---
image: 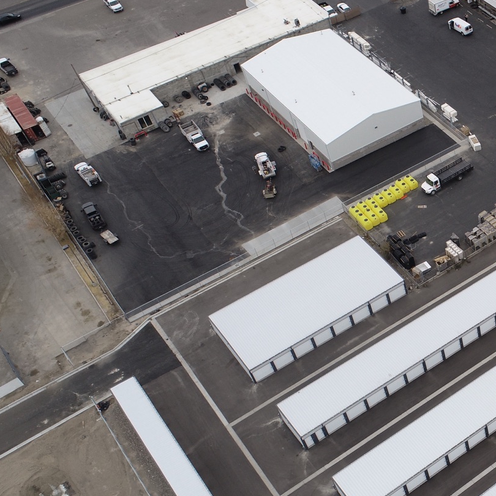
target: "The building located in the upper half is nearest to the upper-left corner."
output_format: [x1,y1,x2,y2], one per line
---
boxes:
[78,0,333,137]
